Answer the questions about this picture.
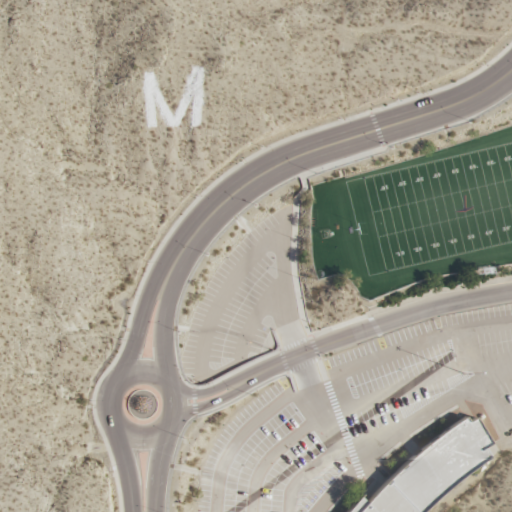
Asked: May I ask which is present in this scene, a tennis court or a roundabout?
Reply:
roundabout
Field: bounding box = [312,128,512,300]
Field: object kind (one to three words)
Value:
sports field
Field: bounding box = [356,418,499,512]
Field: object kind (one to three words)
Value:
building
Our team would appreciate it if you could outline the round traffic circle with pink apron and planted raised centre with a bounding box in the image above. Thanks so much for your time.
[109,370,176,437]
